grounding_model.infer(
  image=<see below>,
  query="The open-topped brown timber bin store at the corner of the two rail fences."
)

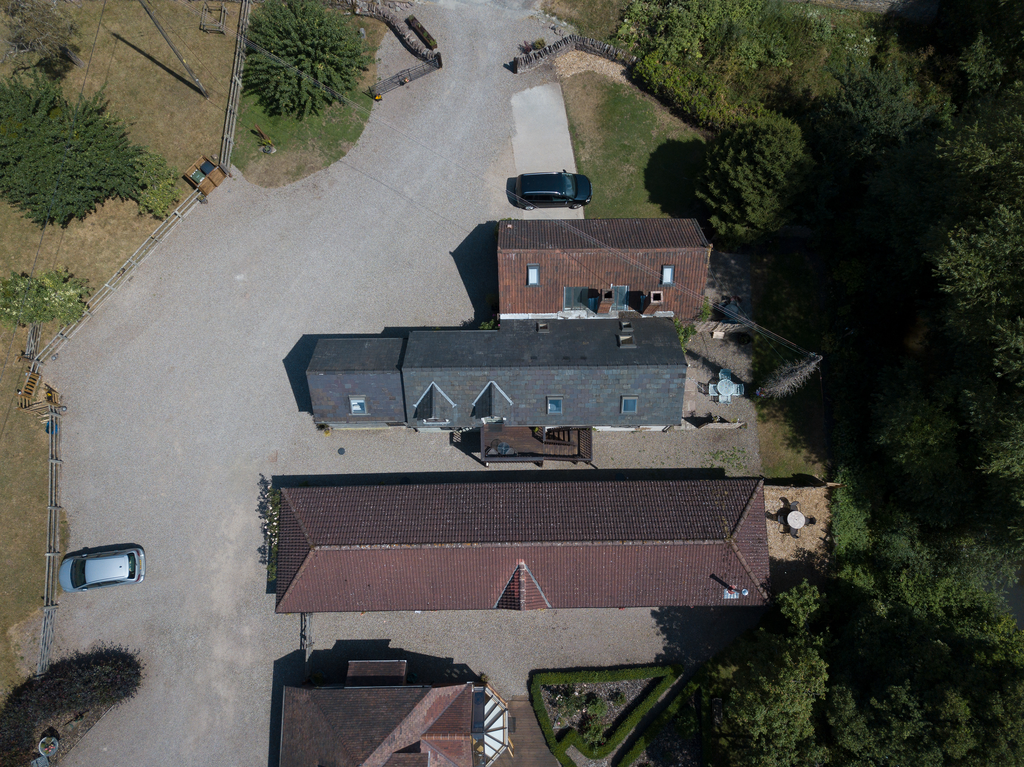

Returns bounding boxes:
[184,155,227,197]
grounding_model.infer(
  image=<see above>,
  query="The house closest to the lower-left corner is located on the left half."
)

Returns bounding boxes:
[279,658,478,767]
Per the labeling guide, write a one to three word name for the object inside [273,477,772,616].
house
